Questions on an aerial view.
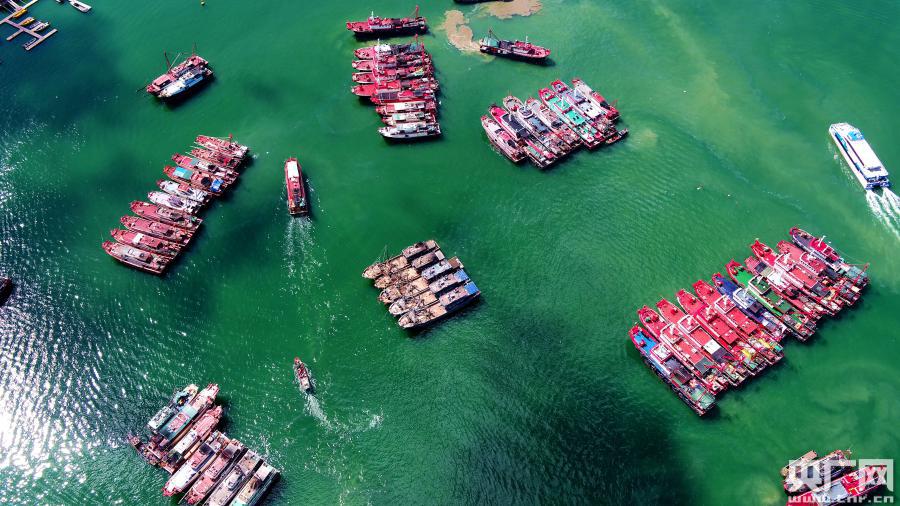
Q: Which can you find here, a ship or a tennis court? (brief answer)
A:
ship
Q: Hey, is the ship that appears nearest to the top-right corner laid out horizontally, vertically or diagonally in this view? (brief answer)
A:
diagonally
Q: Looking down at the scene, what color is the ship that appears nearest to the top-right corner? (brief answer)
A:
white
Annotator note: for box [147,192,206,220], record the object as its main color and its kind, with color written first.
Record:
white boat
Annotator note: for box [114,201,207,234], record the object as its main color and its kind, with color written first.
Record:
pink boat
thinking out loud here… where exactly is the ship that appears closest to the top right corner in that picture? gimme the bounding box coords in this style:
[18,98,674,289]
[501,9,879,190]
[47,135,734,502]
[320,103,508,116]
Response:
[826,124,889,192]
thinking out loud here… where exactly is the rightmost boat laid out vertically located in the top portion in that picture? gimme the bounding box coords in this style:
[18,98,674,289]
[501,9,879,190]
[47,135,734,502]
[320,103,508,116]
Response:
[283,157,308,220]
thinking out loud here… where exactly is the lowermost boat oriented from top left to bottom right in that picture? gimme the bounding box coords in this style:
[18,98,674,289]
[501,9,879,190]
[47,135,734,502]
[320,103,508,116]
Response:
[128,435,167,473]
